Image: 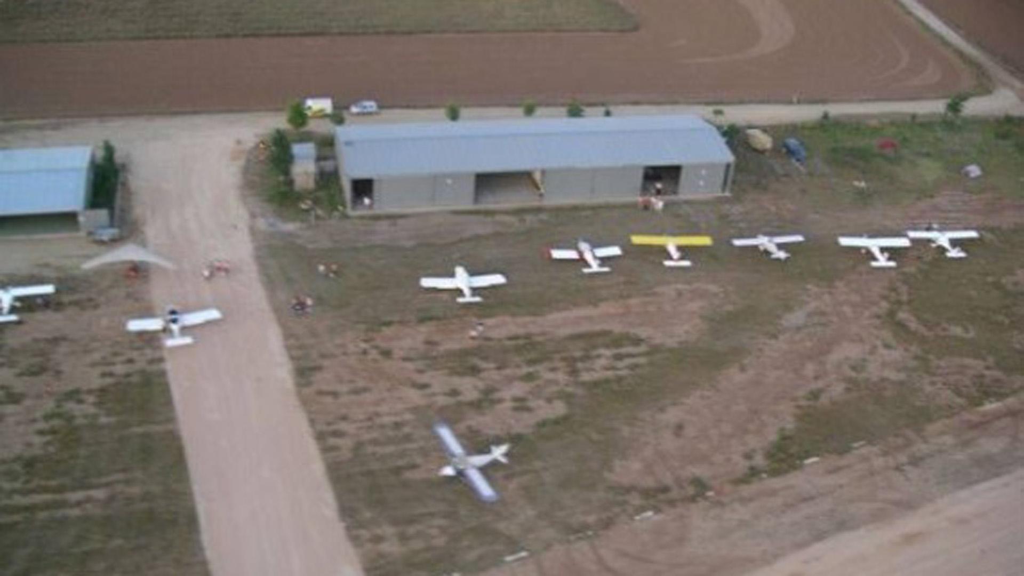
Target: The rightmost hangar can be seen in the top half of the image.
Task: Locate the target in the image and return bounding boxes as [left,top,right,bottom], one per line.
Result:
[333,113,737,214]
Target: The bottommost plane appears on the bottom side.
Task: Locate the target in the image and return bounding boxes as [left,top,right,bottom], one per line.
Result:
[430,423,511,500]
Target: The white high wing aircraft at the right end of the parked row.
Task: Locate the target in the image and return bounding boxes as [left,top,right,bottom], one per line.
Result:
[907,229,982,258]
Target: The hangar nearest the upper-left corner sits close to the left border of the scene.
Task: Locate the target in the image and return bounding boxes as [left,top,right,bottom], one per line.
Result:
[0,147,95,240]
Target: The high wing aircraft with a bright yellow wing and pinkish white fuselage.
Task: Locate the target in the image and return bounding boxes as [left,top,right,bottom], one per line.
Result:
[630,237,715,267]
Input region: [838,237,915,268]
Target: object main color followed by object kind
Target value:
white airplane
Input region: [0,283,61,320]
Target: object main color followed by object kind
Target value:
white airplane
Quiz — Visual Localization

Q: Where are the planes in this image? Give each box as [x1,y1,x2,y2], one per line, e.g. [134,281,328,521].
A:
[124,304,223,343]
[907,229,982,258]
[732,235,806,260]
[630,237,715,267]
[0,283,61,320]
[838,237,915,268]
[548,237,624,268]
[430,423,511,500]
[419,267,507,301]
[80,246,174,282]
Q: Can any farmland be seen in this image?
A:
Yes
